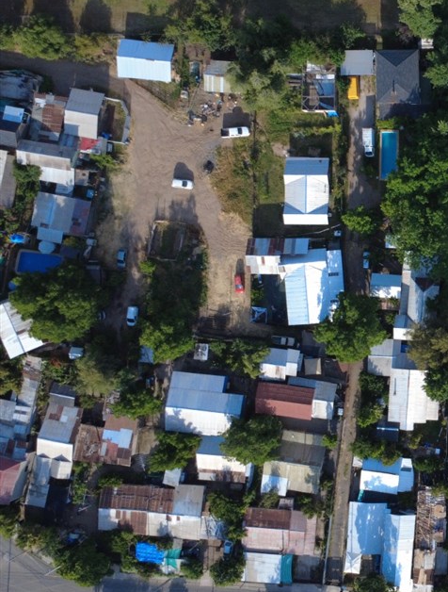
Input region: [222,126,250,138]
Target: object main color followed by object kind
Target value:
white vehicle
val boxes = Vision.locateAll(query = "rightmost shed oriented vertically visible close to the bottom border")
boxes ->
[412,489,448,592]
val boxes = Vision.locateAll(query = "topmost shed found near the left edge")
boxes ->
[0,68,49,101]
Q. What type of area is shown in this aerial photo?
residential area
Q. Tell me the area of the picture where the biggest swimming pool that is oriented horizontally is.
left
